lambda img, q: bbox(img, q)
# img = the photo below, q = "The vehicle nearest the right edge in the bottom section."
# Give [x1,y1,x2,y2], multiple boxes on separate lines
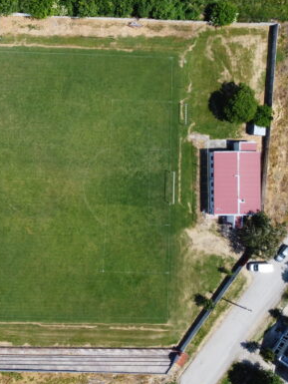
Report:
[273,243,288,261]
